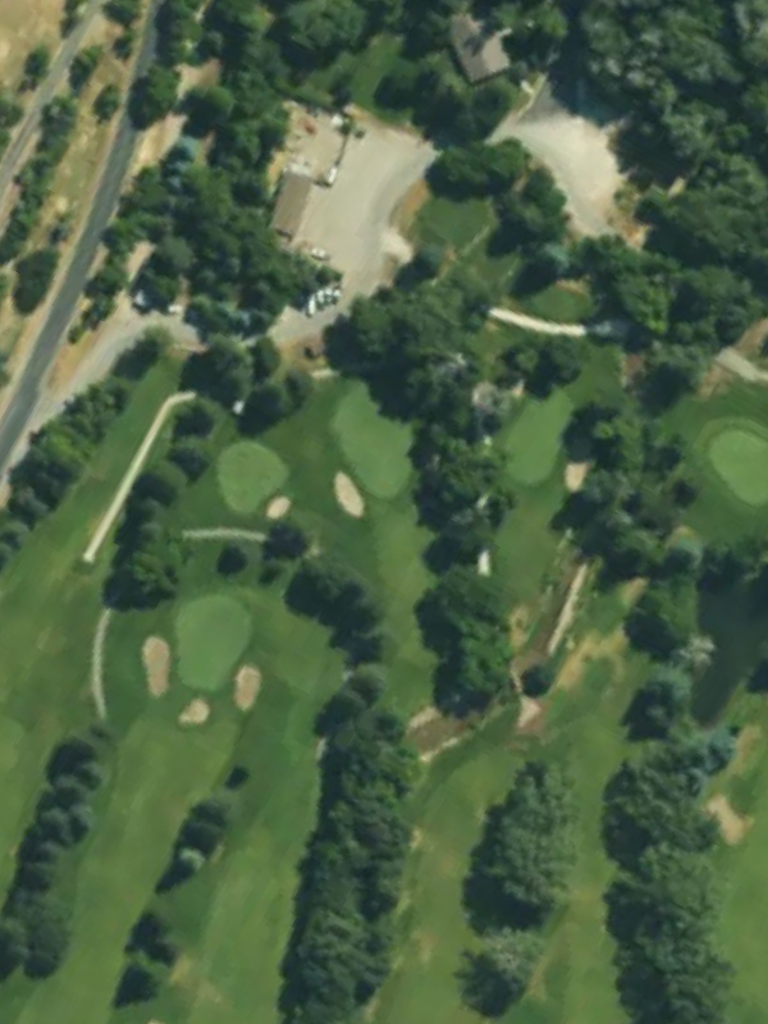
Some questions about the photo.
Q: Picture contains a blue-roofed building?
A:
No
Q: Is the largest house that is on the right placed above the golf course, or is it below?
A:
above it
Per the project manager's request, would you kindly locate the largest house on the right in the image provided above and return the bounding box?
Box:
[449,8,507,82]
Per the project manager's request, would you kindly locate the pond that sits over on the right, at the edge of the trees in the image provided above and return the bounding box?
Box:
[691,561,768,727]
